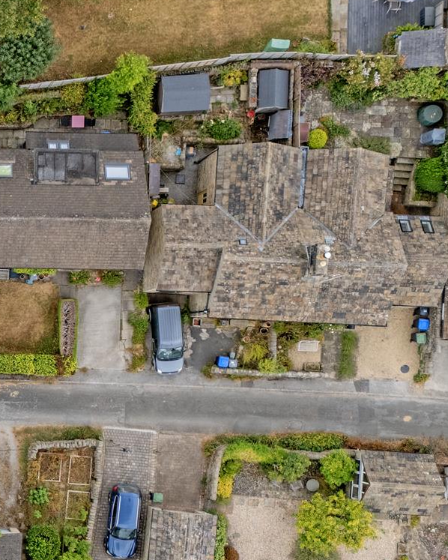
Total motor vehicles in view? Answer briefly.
2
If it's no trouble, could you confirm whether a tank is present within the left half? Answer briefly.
No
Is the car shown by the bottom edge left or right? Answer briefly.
left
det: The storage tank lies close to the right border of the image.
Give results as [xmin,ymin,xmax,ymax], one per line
[408,102,444,131]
